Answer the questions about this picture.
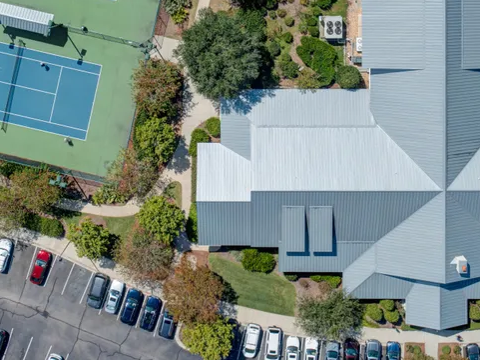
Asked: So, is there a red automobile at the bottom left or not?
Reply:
Yes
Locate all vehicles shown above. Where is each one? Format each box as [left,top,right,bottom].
[464,341,480,360]
[49,351,62,360]
[344,338,359,360]
[139,295,160,333]
[0,327,6,357]
[87,271,109,310]
[265,329,282,360]
[157,310,175,340]
[121,288,142,326]
[30,248,52,286]
[304,338,319,360]
[104,278,125,314]
[386,340,402,360]
[0,236,13,273]
[366,340,381,360]
[286,337,300,360]
[243,323,261,360]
